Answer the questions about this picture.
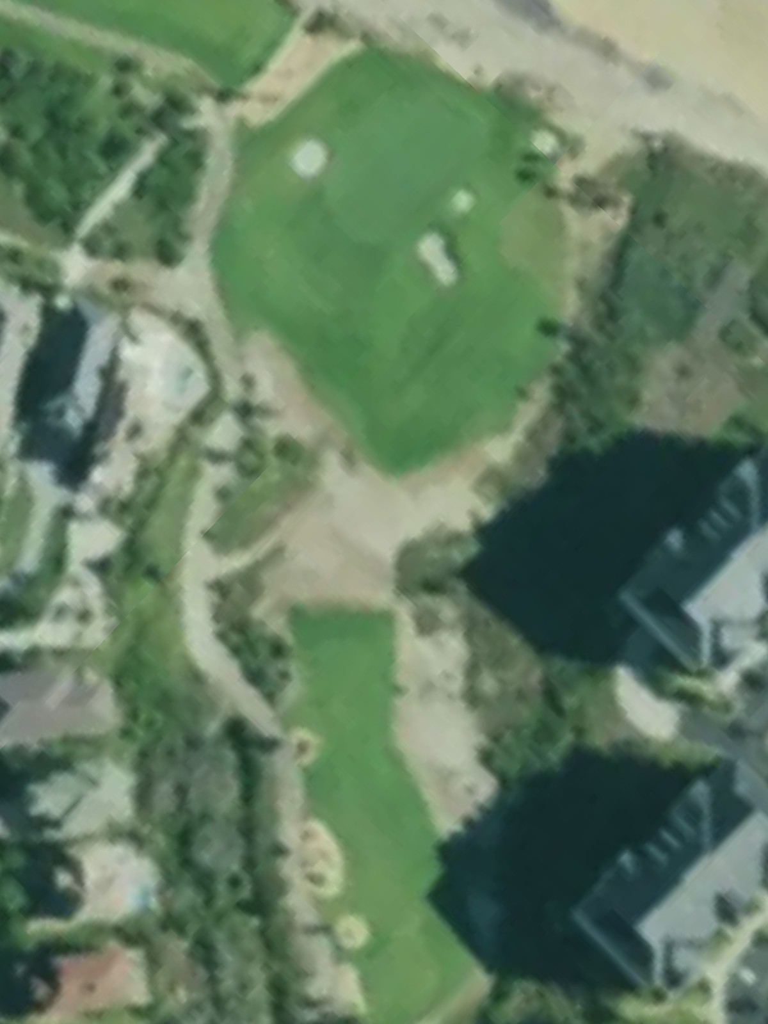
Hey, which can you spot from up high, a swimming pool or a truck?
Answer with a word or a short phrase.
swimming pool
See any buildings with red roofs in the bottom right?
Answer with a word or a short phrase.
No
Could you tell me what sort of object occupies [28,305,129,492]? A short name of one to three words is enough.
building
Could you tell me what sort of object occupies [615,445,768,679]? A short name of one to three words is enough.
building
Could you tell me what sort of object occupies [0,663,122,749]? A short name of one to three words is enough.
house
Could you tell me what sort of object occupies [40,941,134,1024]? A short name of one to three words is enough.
house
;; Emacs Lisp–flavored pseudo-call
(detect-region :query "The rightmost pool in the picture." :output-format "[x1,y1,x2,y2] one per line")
[169,365,196,395]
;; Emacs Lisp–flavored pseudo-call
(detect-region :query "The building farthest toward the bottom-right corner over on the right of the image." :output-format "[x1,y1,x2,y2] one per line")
[564,752,768,992]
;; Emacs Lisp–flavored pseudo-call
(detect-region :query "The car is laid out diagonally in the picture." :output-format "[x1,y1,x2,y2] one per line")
[737,968,756,986]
